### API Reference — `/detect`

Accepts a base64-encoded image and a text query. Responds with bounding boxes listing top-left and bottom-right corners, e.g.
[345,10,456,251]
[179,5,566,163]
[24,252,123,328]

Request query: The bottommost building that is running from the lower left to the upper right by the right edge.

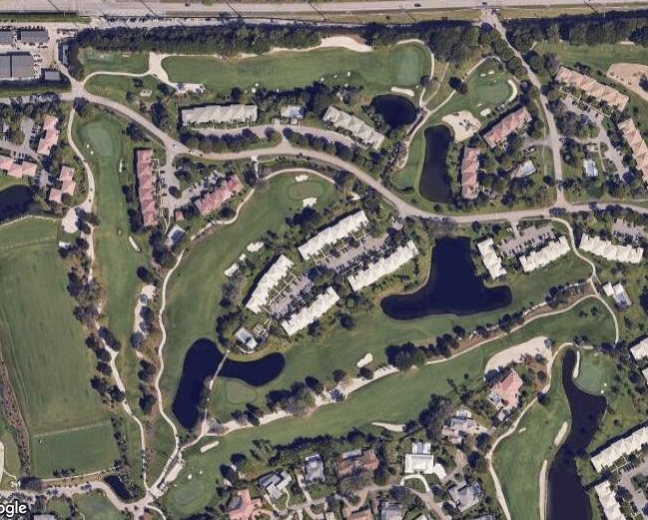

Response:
[592,428,648,472]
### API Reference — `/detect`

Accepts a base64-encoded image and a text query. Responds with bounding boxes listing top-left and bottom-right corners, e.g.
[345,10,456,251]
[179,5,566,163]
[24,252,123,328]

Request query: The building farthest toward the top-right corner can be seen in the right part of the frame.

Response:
[557,67,628,113]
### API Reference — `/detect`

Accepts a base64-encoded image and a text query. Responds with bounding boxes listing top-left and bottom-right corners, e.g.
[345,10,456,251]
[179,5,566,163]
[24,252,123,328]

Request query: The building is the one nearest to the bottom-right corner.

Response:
[595,482,627,520]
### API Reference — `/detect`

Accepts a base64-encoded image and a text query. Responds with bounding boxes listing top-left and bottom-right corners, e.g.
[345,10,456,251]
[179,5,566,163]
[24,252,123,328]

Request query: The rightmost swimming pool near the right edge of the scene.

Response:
[614,293,631,312]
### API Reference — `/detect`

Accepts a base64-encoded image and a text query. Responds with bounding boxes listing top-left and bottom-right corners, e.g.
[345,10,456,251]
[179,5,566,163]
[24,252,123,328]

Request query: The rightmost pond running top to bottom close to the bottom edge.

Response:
[547,349,607,520]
